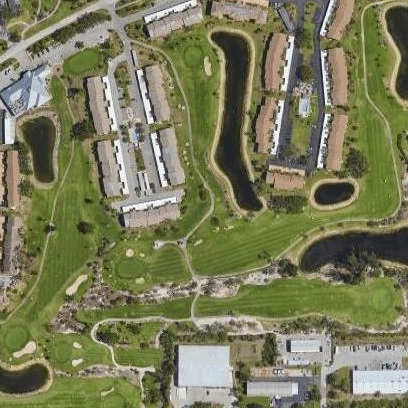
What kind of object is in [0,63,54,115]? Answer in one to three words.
building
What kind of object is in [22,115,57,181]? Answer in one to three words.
pond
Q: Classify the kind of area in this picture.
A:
golf course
